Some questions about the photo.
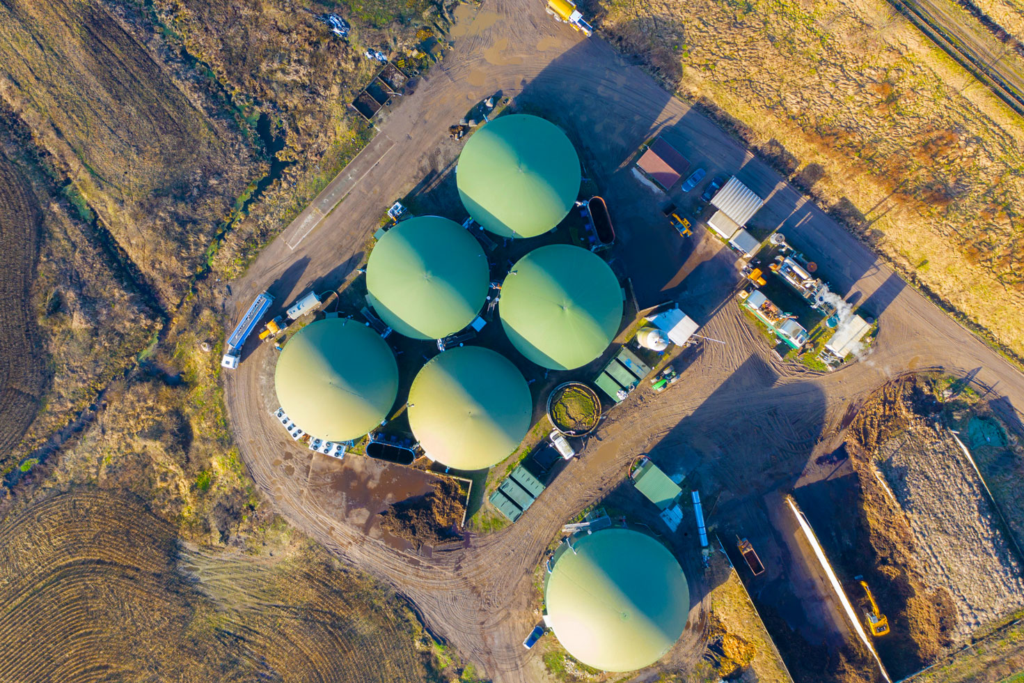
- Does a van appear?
Yes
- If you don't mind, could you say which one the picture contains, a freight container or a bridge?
freight container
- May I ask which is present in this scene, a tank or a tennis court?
tank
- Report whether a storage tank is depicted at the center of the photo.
Yes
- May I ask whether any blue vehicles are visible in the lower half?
Yes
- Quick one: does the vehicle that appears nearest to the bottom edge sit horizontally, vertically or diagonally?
diagonally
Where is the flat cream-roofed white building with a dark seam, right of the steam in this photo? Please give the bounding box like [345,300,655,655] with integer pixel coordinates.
[822,314,870,359]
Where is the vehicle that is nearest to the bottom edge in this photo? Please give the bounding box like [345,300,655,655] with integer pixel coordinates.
[523,623,544,648]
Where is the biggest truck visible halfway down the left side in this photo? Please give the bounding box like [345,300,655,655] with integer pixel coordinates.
[218,292,279,364]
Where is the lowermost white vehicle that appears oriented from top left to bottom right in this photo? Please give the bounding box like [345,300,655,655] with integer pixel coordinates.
[547,429,576,461]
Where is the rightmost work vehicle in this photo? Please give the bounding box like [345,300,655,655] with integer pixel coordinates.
[855,578,890,637]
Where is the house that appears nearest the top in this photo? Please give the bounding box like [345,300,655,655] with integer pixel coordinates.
[636,137,691,192]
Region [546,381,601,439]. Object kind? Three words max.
storage tank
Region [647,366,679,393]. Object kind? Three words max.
work vehicle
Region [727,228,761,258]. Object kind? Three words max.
building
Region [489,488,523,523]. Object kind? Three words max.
shipping container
